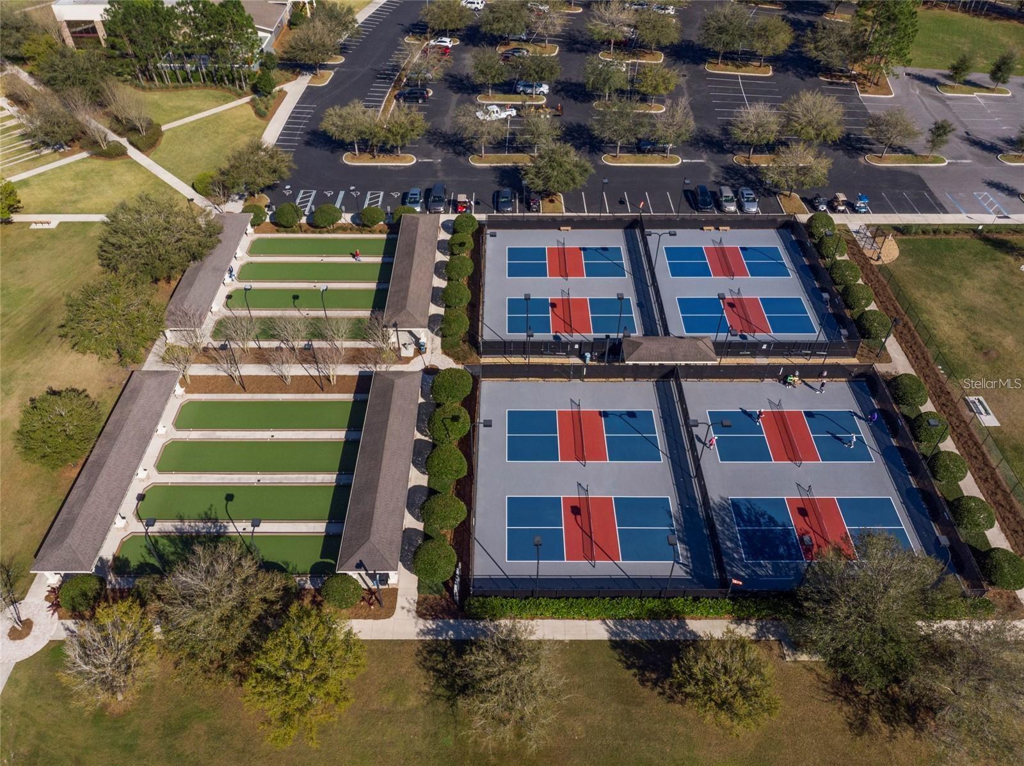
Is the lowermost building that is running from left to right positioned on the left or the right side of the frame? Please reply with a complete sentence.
You can find the lowermost building that is running from left to right on the right side of the picture.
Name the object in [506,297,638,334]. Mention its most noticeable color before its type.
blue sports court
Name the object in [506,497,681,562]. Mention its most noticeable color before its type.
blue sports court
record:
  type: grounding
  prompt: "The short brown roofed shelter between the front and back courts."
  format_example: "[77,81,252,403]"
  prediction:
[621,336,719,364]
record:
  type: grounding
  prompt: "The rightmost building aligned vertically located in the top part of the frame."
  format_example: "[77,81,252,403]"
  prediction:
[381,213,441,349]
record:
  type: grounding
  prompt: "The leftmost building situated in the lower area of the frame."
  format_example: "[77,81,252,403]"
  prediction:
[28,369,186,585]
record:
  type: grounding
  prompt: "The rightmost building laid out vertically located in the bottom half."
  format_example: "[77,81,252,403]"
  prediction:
[335,370,423,584]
